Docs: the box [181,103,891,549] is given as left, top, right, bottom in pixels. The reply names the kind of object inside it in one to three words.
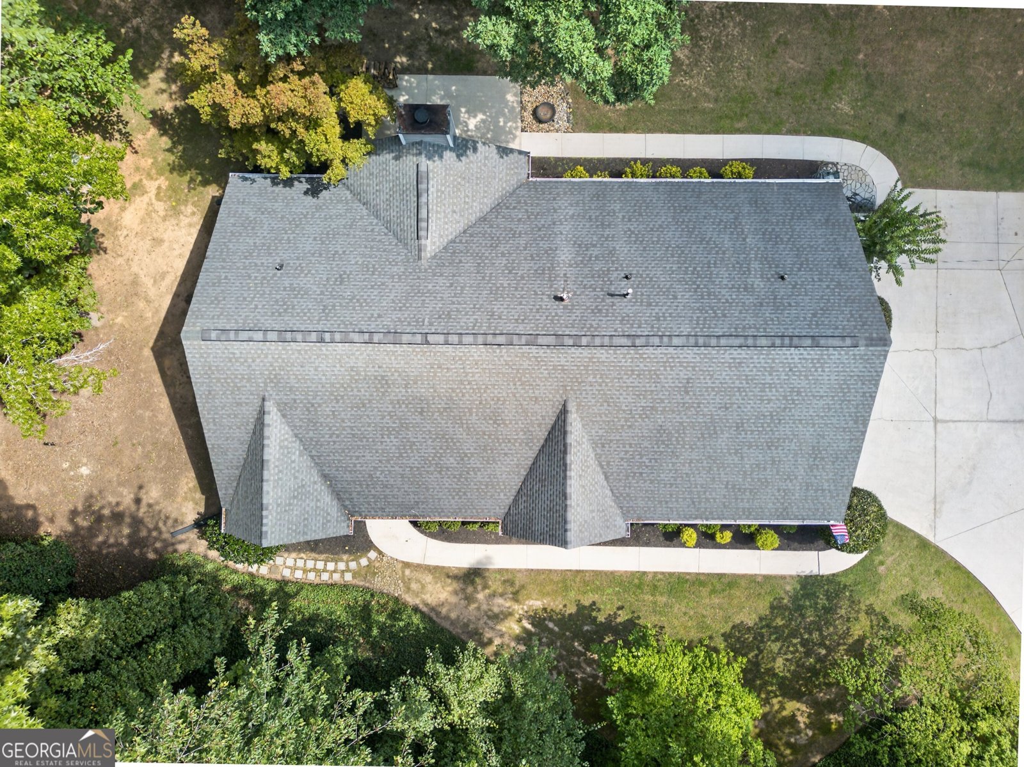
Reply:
house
